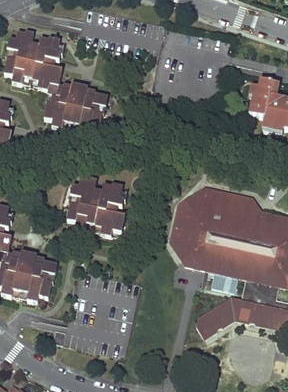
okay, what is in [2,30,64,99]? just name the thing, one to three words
building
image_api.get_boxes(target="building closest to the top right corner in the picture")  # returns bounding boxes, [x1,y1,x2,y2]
[248,76,288,136]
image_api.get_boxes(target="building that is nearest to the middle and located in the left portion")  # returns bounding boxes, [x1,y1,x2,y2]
[65,178,127,238]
